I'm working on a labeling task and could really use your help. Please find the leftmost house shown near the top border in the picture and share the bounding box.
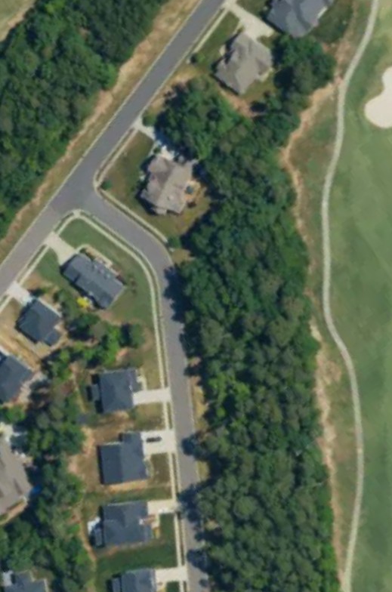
[211,26,276,92]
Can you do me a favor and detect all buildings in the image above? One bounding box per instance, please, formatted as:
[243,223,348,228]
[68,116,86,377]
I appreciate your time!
[211,26,276,92]
[137,150,198,218]
[90,367,143,410]
[93,501,155,546]
[58,248,124,314]
[0,427,33,512]
[15,297,63,344]
[97,430,149,484]
[110,568,156,592]
[0,350,35,408]
[263,0,334,41]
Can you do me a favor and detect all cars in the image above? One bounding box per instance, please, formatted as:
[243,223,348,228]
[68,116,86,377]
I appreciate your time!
[157,507,170,513]
[148,436,161,442]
